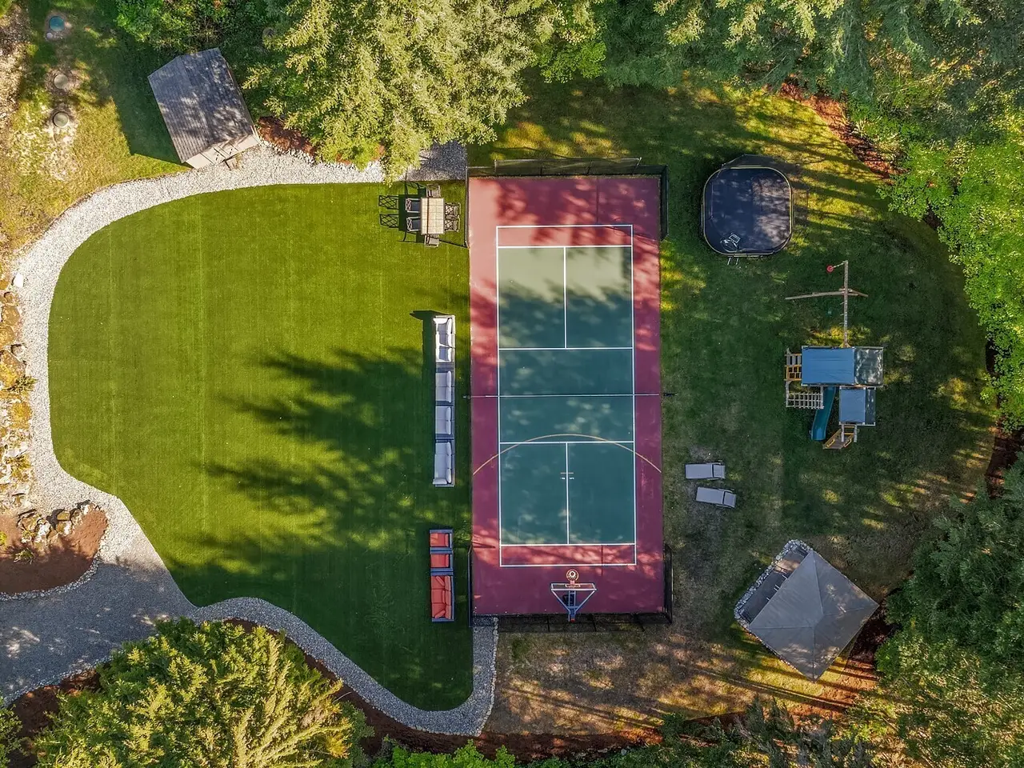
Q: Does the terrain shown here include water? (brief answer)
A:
No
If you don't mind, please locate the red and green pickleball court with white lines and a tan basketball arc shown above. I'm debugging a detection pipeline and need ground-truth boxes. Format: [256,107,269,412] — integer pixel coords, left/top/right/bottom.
[469,175,665,616]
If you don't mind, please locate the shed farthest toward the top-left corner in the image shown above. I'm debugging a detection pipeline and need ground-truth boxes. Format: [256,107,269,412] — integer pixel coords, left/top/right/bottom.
[147,48,264,172]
